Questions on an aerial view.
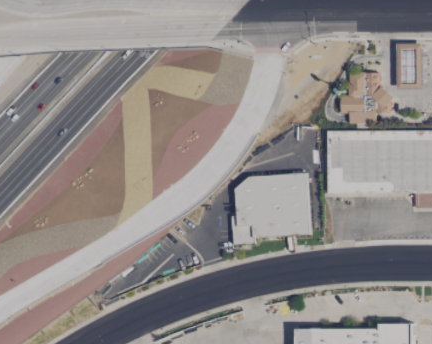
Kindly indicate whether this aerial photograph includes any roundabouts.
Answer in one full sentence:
No, this view has no roundabout in it.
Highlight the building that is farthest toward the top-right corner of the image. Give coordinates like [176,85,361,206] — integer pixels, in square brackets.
[397,45,422,89]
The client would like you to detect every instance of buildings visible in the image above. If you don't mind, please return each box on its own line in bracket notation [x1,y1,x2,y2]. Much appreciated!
[328,131,432,196]
[397,45,422,89]
[294,322,418,344]
[235,174,314,240]
[341,74,394,129]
